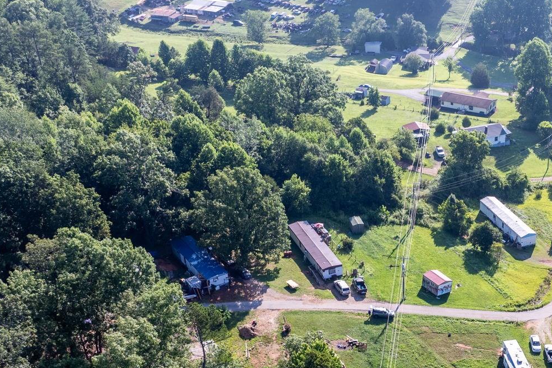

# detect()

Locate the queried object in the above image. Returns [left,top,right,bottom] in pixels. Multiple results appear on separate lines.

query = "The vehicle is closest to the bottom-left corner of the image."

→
[236,265,253,280]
